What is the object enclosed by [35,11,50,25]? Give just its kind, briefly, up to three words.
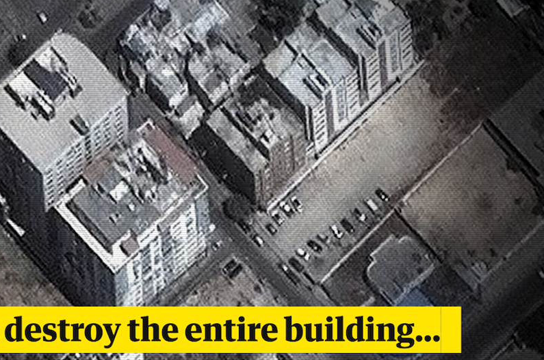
vehicle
